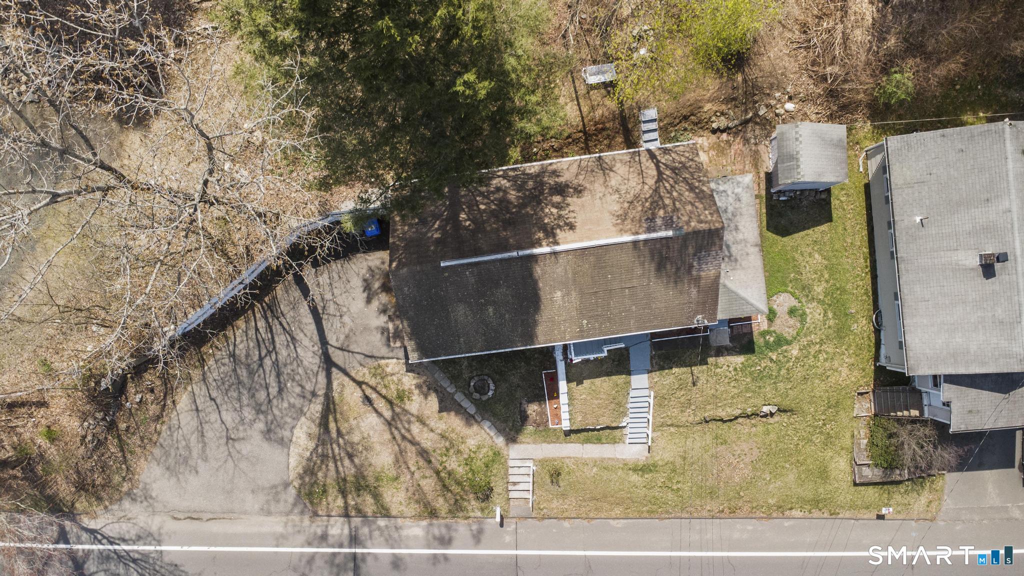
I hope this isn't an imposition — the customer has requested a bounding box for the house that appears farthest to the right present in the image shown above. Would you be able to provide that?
[850,122,1024,434]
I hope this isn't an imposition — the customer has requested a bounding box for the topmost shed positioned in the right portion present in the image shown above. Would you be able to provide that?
[761,120,846,189]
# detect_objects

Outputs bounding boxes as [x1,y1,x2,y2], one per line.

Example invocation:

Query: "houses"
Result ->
[850,122,1024,434]
[386,140,769,364]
